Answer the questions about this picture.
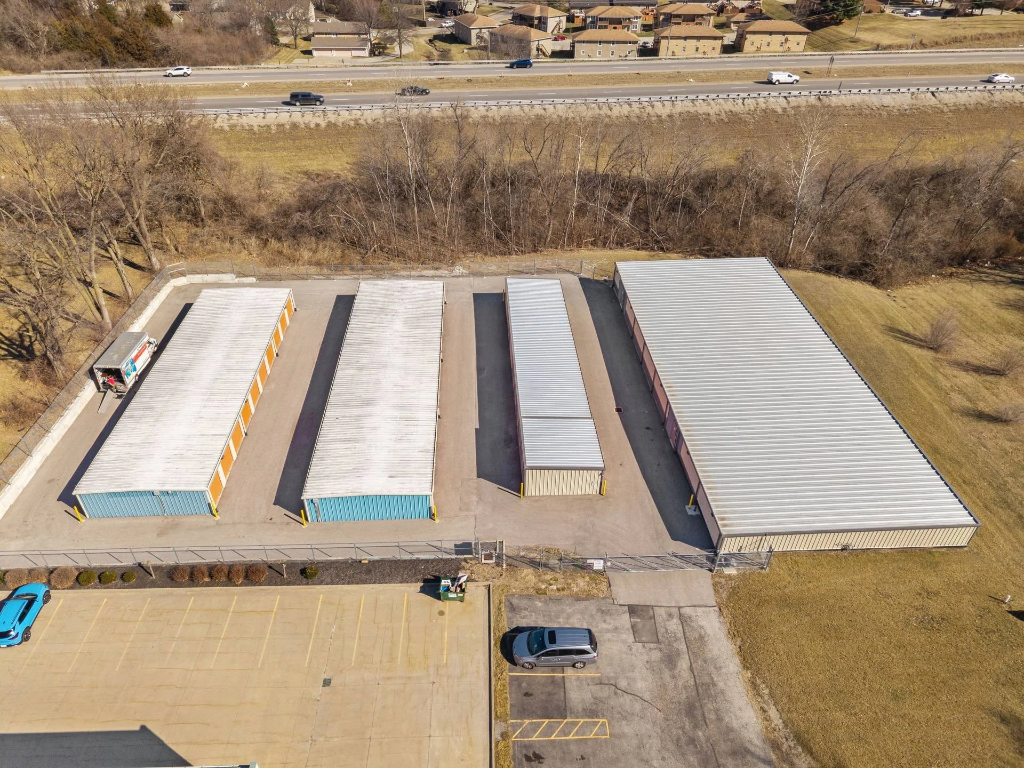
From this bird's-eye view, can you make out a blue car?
Yes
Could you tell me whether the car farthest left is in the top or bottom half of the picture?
bottom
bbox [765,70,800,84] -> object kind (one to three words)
vehicle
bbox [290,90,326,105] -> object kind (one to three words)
car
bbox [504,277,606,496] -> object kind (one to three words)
building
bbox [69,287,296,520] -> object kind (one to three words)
building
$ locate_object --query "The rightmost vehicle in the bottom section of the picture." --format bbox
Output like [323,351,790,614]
[512,624,602,670]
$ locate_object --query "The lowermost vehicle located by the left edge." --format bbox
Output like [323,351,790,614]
[0,583,52,650]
